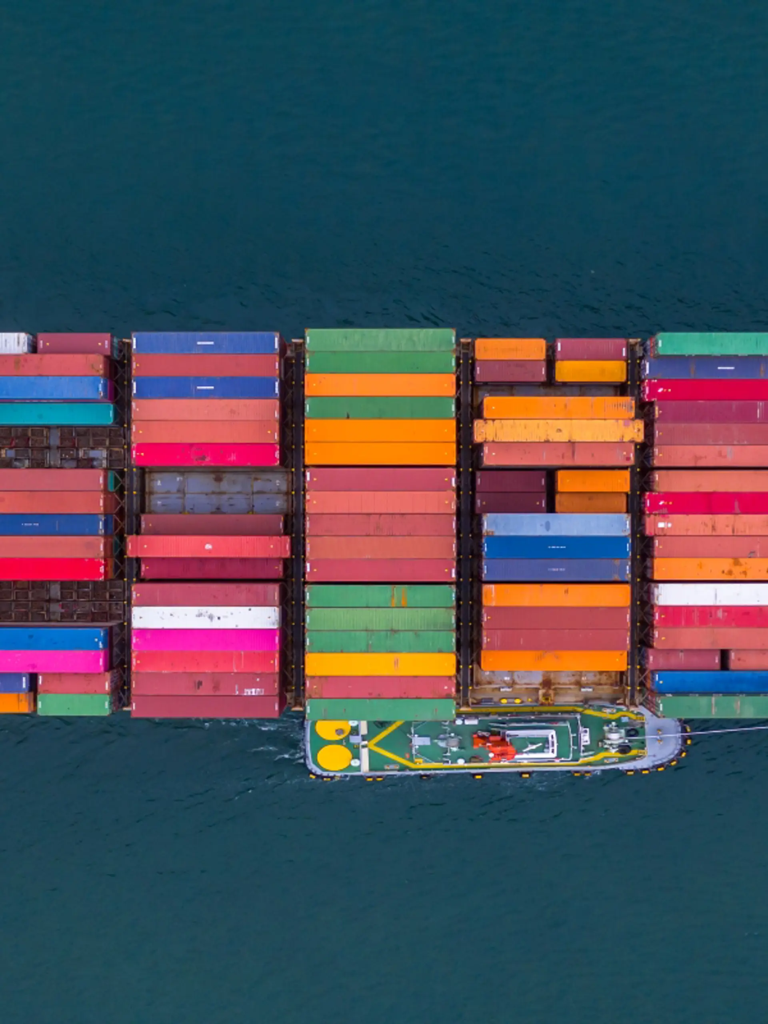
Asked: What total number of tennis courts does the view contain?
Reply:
none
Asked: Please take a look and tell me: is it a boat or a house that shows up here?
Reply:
boat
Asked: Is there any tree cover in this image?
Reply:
No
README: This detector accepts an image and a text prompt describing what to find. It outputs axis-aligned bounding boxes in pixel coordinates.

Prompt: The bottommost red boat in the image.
[488,746,519,762]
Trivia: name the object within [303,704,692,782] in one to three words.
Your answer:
boat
